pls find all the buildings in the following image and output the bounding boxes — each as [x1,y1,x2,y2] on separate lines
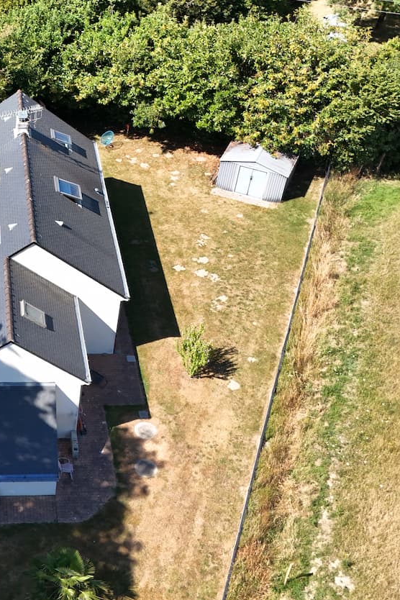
[0,91,134,494]
[211,135,297,208]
